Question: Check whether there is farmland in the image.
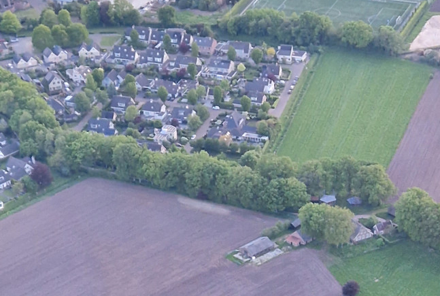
Yes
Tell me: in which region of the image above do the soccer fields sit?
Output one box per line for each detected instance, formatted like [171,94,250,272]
[244,0,414,36]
